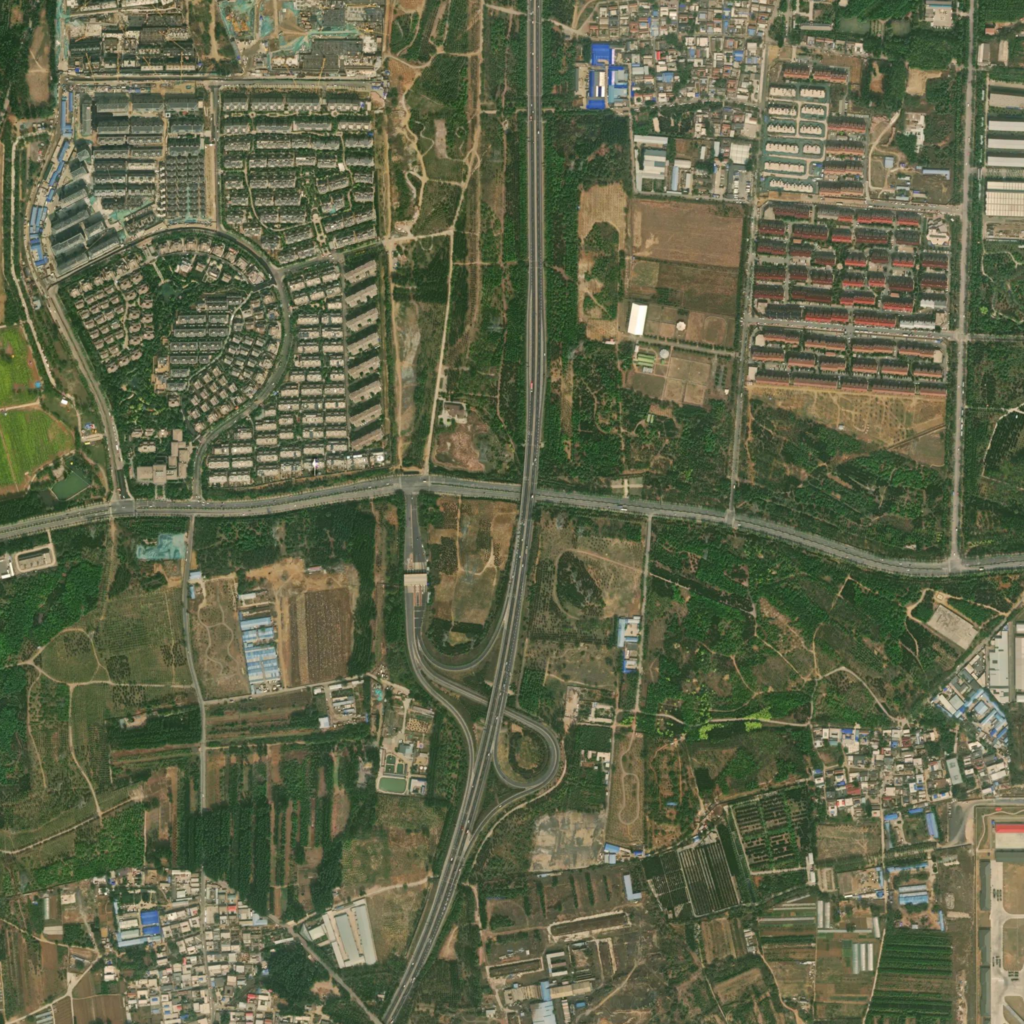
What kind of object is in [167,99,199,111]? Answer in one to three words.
house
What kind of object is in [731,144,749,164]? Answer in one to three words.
building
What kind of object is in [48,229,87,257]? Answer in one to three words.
building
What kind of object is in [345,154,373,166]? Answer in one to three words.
house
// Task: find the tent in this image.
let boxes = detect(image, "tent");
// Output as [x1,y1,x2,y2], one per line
[628,303,647,335]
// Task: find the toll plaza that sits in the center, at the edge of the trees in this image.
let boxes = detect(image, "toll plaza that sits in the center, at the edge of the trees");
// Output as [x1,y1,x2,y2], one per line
[404,570,427,599]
